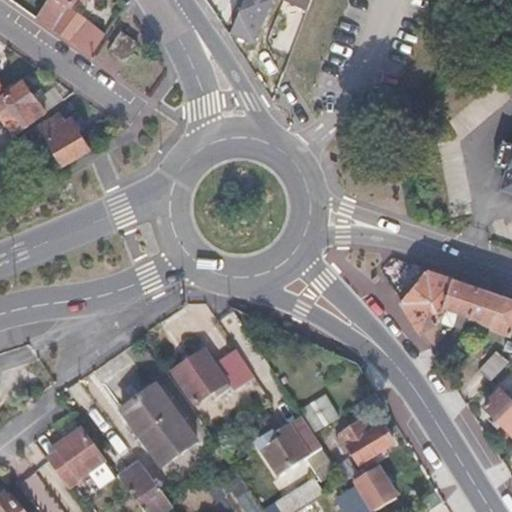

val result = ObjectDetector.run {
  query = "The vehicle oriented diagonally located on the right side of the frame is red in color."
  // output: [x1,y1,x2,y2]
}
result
[365,296,386,316]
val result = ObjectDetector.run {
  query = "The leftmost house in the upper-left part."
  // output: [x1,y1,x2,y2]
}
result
[0,79,47,131]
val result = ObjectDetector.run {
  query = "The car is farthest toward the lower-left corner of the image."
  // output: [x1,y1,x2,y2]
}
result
[38,435,54,454]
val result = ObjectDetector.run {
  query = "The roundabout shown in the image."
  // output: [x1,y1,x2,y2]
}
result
[148,114,334,299]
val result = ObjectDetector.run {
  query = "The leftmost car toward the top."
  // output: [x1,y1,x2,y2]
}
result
[53,40,70,54]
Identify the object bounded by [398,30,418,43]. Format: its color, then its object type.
white vehicle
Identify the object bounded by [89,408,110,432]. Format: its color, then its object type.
white vehicle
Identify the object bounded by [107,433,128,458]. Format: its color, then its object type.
white truck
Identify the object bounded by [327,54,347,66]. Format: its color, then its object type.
gray vehicle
